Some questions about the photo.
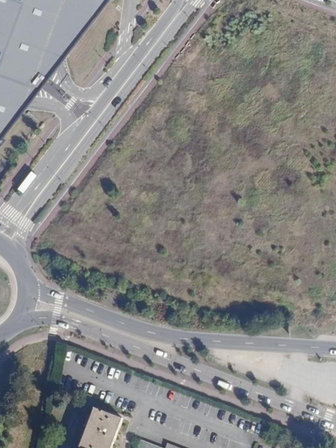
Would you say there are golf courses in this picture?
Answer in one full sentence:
No, the frame has no golf course in it.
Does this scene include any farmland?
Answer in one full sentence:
No, farmland can't be seen anywhere here.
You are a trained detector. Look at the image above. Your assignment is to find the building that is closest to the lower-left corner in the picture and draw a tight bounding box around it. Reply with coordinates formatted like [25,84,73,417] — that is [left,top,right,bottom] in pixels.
[76,407,124,448]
